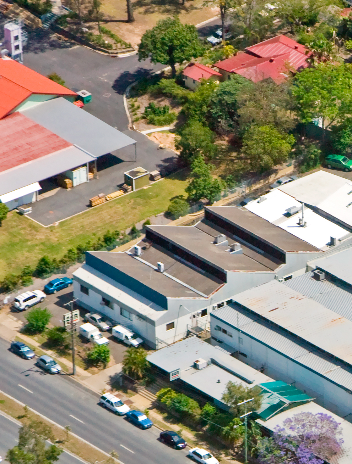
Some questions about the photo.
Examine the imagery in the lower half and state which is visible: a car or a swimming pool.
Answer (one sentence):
What appears in the lower half is a car.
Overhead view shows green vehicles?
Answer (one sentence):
Yes, there's a green vehicle here.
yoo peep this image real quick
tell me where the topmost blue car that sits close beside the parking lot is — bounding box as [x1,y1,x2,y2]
[43,278,71,295]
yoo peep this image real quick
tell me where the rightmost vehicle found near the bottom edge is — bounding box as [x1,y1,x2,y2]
[188,448,219,464]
